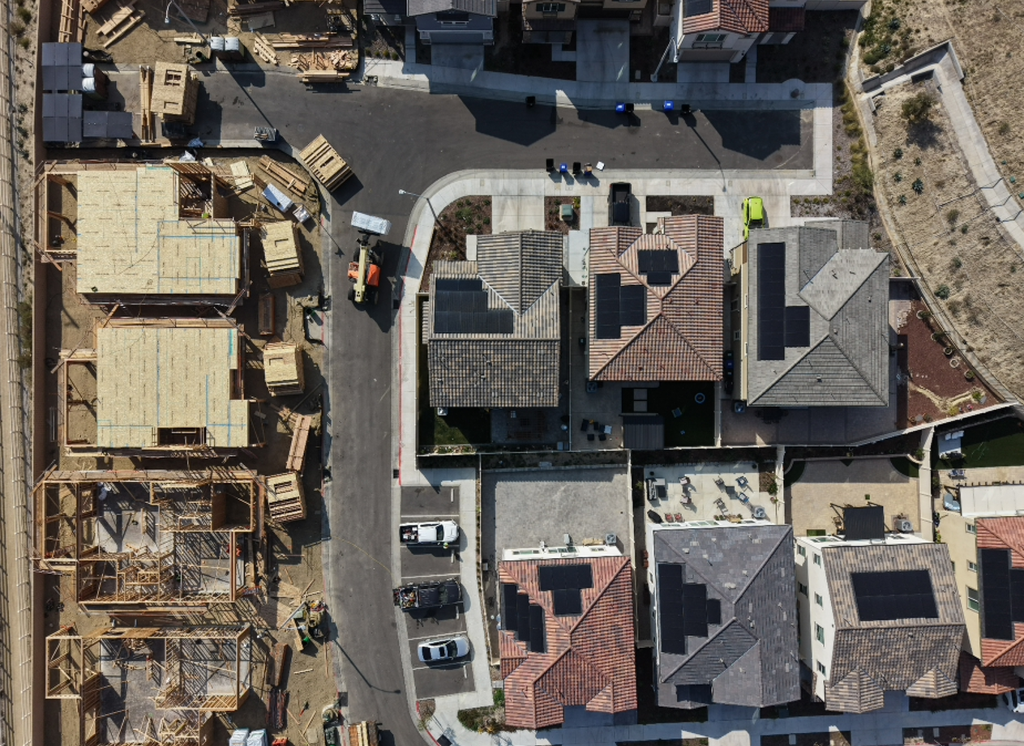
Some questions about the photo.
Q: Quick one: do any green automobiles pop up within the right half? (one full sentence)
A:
Yes, there is a green automobile within the right half.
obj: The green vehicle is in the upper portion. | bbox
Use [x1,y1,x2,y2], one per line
[740,195,766,239]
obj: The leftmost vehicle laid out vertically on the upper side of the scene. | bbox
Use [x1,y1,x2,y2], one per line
[348,228,381,302]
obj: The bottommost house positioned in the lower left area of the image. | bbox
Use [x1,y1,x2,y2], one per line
[46,626,251,746]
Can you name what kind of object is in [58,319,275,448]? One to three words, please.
house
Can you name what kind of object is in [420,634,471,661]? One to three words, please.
car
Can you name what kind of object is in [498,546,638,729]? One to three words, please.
house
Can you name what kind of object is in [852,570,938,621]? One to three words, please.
solar array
